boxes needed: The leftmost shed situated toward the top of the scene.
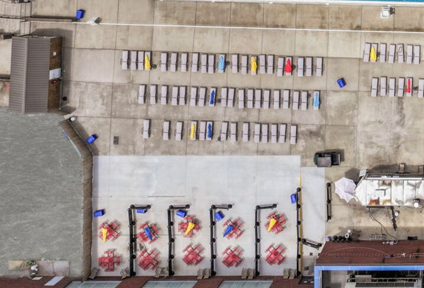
[10,36,64,113]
